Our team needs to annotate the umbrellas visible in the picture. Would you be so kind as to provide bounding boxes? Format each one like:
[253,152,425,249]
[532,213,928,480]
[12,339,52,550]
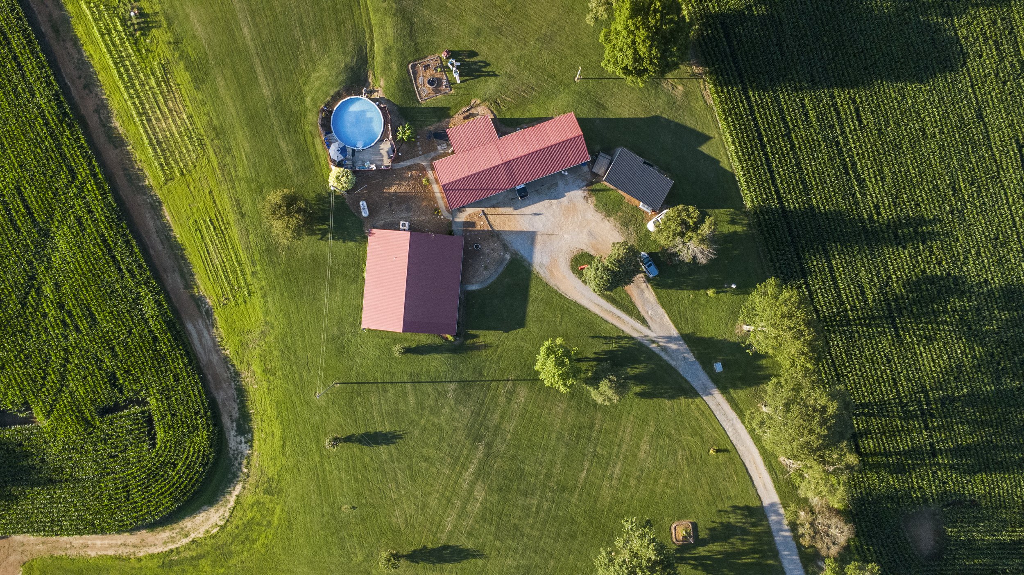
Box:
[330,142,348,160]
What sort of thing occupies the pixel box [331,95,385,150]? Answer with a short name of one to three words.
swimming pool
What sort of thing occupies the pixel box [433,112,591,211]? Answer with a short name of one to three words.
house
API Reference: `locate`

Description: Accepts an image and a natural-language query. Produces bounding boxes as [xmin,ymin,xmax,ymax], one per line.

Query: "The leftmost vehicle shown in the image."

[514,184,532,205]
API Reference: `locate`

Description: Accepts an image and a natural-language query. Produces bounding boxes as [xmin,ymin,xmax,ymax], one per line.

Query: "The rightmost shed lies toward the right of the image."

[603,148,675,212]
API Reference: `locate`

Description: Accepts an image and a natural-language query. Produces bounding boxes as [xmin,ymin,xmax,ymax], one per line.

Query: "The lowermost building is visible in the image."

[361,229,465,339]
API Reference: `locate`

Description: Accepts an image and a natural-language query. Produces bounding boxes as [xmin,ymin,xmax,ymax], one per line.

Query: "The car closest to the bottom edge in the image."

[639,251,662,281]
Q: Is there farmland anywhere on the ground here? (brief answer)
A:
Yes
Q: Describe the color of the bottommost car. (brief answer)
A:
blue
